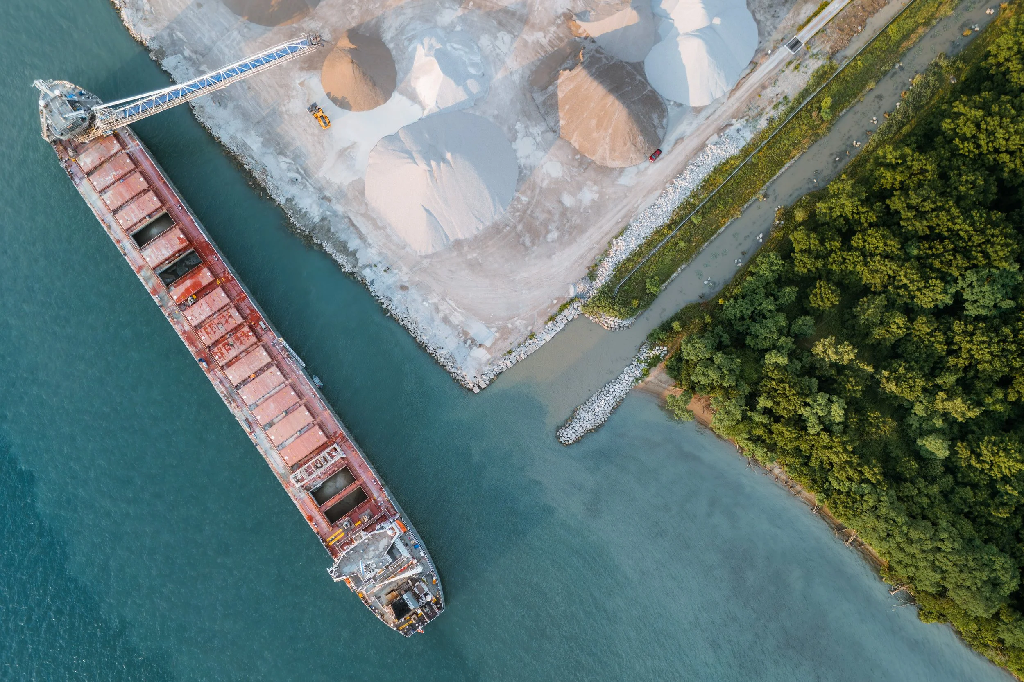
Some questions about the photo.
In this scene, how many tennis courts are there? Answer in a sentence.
There are no tennis courts in the image.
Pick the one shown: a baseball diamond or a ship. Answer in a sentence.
Visible in the photo is a ship.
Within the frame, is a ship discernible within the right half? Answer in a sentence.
No, looking within the right half, there is no ship.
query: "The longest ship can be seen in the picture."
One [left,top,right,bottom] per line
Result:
[32,30,445,639]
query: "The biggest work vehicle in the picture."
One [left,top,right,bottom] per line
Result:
[306,101,329,129]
